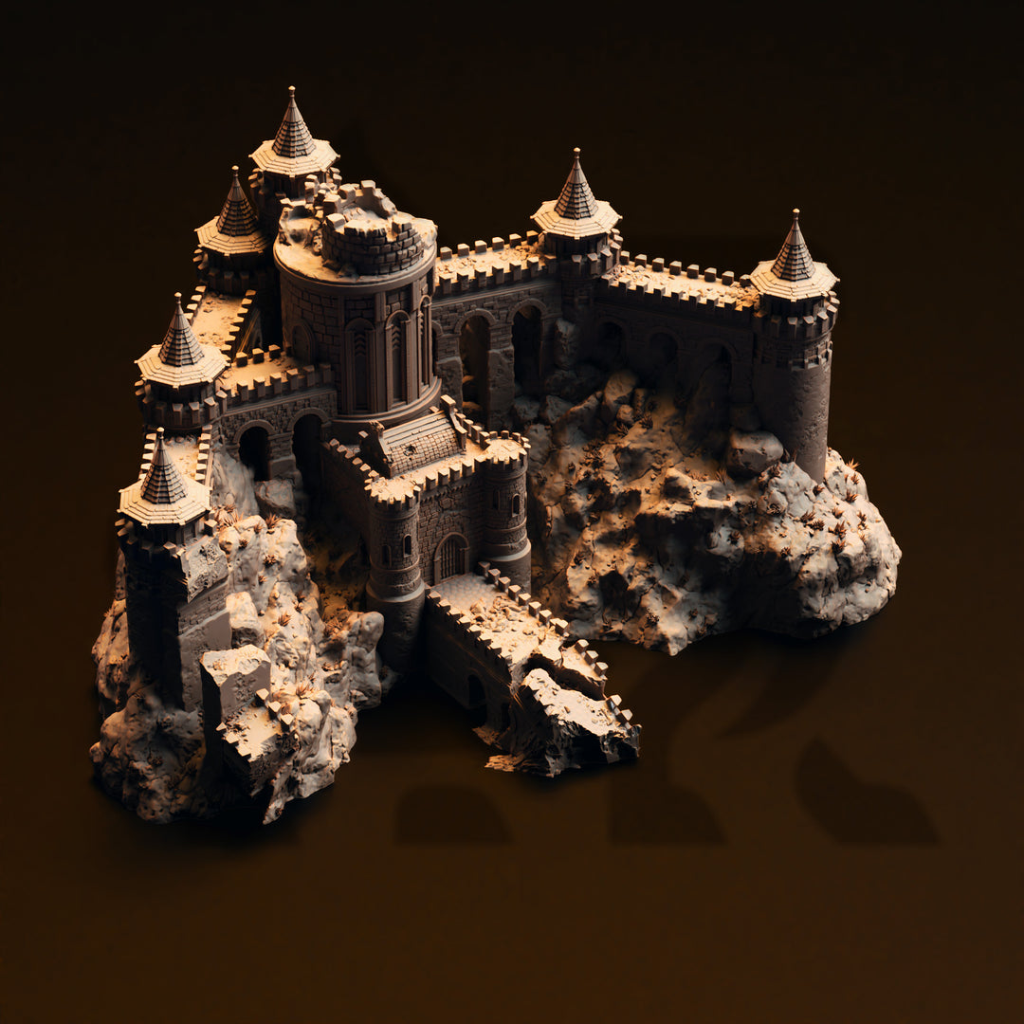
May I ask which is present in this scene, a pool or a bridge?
bridge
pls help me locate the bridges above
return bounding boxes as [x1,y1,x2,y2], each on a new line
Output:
[413,553,574,754]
